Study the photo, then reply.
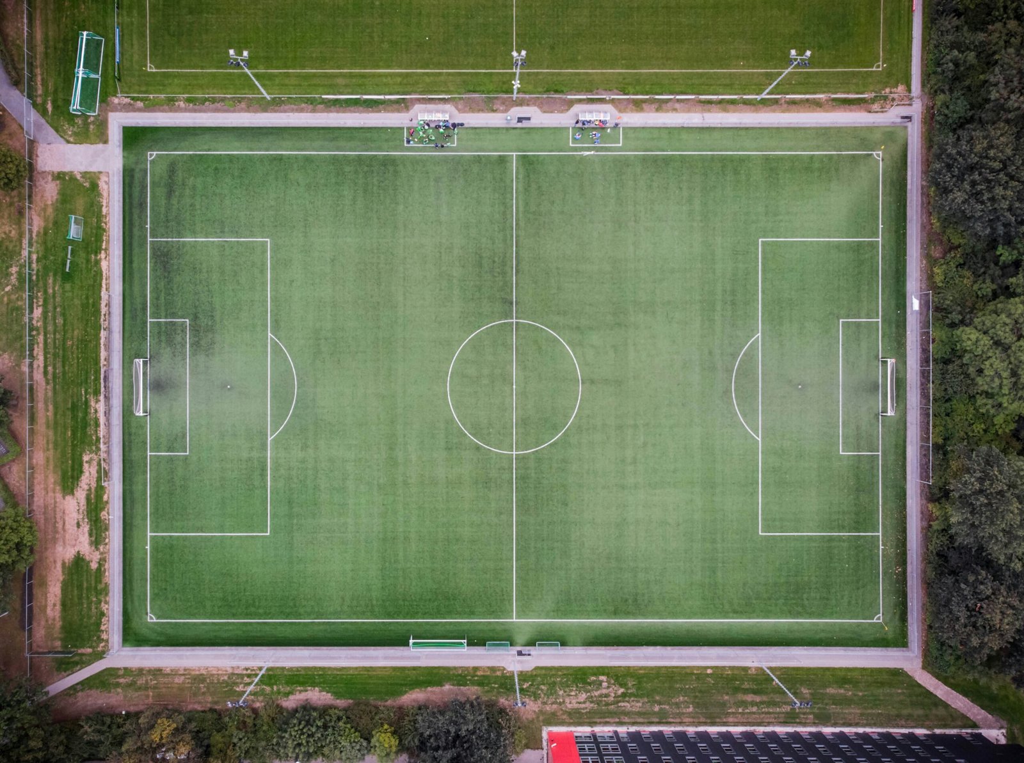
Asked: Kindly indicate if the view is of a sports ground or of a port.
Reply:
sports ground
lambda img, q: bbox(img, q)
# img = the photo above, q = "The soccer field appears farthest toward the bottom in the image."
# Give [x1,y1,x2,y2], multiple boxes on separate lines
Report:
[123,126,907,647]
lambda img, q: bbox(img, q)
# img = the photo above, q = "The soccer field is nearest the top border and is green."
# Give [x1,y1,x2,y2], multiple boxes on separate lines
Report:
[120,0,912,96]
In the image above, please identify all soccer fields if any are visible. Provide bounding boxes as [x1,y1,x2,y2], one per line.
[120,0,912,96]
[123,126,907,647]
